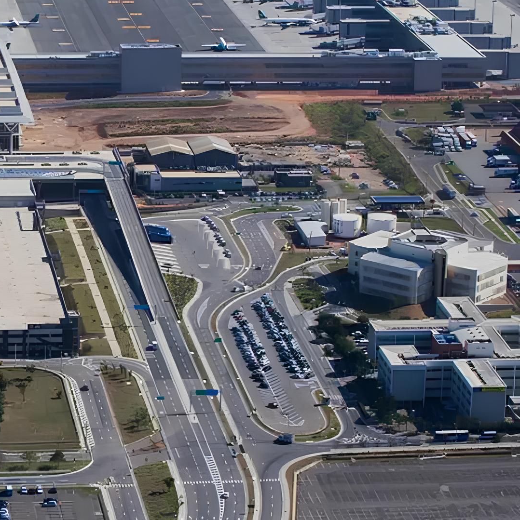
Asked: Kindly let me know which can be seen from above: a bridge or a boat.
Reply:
bridge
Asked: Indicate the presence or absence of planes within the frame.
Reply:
Yes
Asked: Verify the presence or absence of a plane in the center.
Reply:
No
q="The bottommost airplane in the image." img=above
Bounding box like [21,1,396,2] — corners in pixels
[194,36,250,49]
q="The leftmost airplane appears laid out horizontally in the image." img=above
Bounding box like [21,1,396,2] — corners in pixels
[0,10,38,27]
